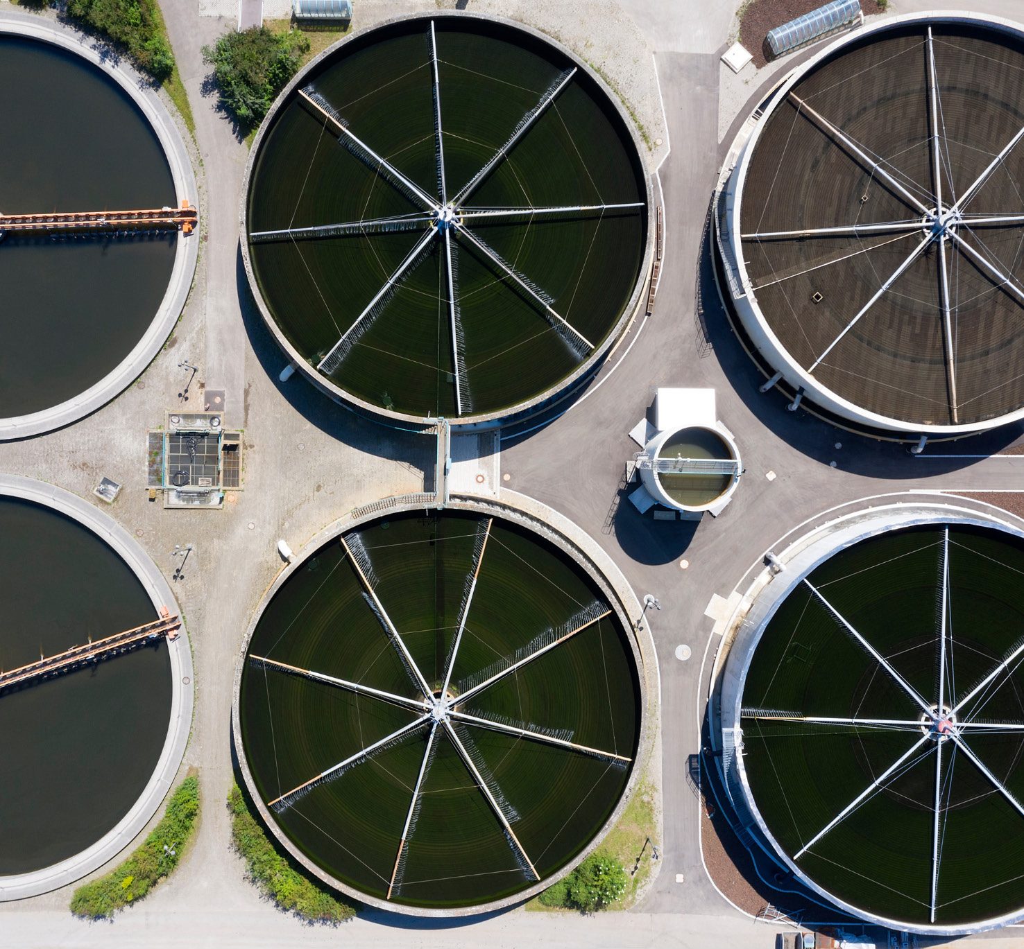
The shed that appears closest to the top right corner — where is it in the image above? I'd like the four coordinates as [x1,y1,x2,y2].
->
[655,388,715,438]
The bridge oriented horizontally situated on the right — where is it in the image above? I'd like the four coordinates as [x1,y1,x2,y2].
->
[653,452,747,475]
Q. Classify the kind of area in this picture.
industrial area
